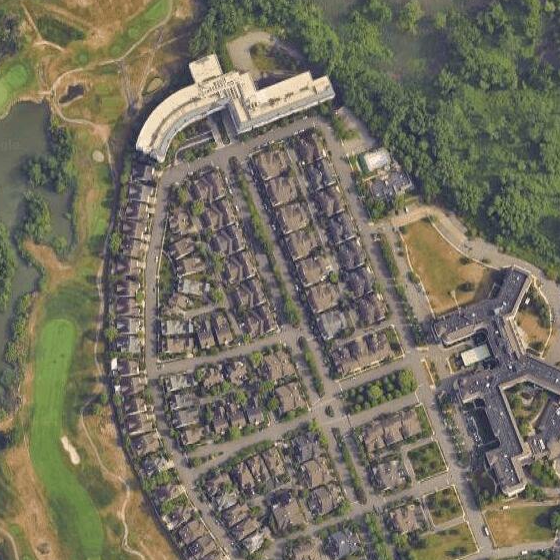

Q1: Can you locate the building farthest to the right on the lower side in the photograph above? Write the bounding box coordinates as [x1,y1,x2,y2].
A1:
[433,267,560,493]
